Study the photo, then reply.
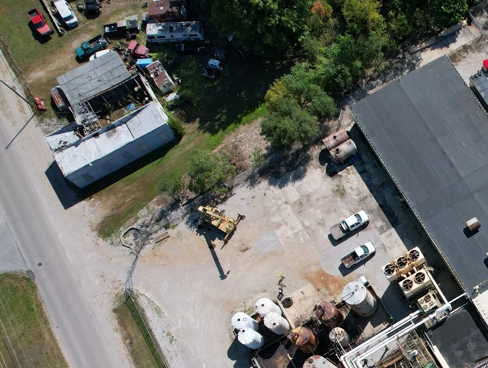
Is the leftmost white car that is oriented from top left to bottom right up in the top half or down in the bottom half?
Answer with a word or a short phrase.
top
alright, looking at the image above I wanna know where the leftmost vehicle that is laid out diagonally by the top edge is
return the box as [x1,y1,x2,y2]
[25,7,56,38]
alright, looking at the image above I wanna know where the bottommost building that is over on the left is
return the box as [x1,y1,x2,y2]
[42,99,181,188]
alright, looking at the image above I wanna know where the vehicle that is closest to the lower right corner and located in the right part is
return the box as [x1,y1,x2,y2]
[341,245,378,271]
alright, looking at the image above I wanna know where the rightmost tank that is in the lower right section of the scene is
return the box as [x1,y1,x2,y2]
[342,281,378,315]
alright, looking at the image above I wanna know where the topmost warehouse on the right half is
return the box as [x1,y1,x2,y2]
[349,54,488,303]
